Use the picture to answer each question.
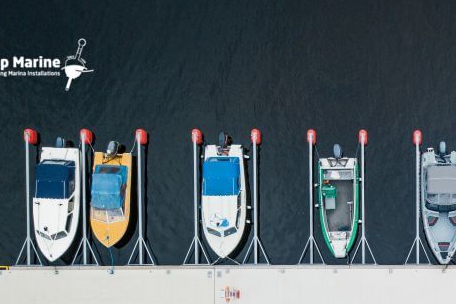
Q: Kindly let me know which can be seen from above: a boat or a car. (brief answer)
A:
boat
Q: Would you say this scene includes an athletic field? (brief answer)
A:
No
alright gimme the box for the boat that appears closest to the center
[201,131,247,259]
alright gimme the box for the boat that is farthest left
[33,137,82,263]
